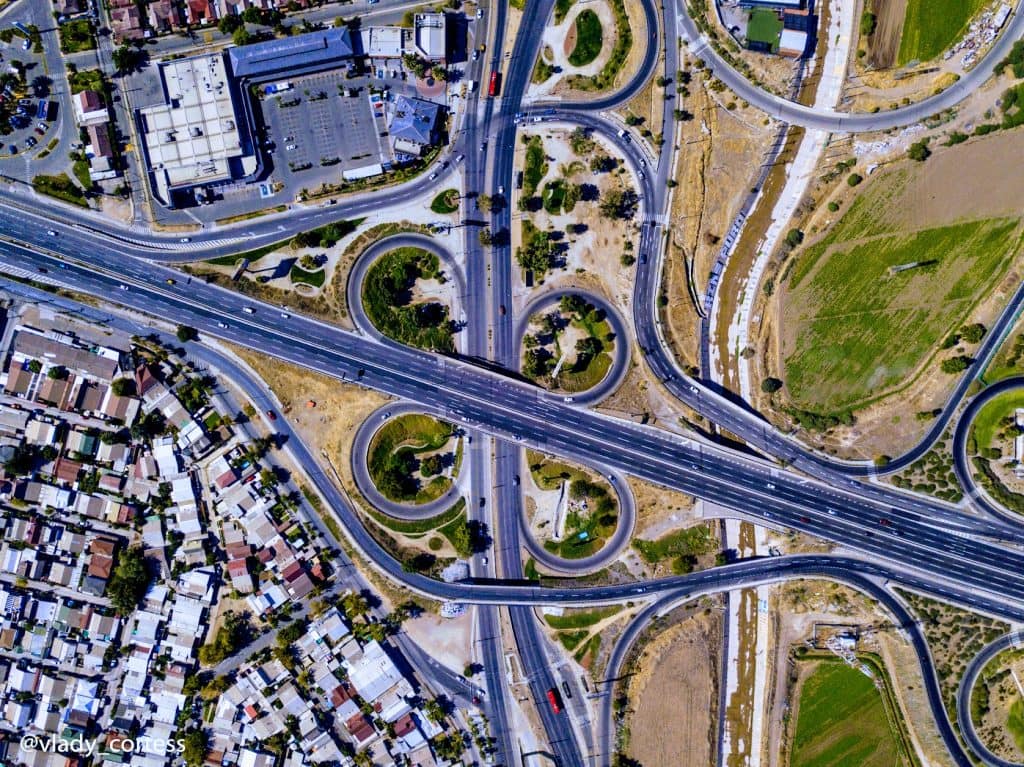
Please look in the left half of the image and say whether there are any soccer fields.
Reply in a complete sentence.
No, looking in the left half of the image, there is no soccer field.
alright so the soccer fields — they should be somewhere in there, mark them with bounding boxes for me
[746,9,782,52]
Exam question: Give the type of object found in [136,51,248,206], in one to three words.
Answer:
building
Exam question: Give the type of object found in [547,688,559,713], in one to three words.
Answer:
vehicle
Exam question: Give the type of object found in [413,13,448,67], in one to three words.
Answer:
building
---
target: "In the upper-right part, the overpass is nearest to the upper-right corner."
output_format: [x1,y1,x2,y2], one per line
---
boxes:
[674,0,1024,137]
